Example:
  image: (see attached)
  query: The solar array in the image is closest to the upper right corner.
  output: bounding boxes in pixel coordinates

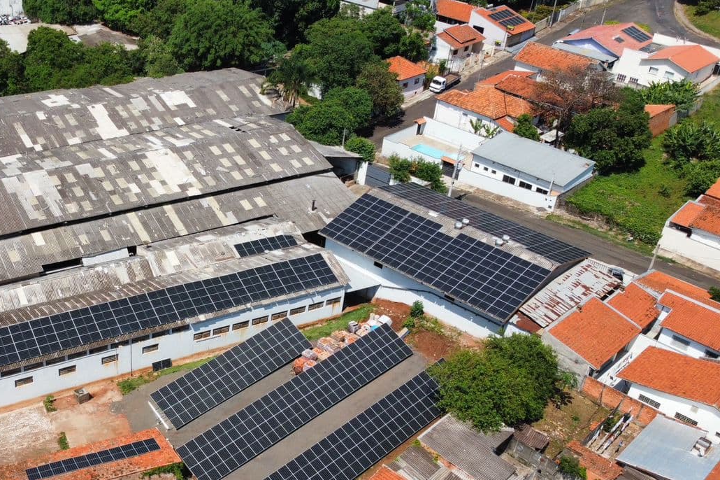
[622,26,651,42]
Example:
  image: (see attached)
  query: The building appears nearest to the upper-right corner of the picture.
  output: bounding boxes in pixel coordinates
[645,46,719,89]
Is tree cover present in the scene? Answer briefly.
Yes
